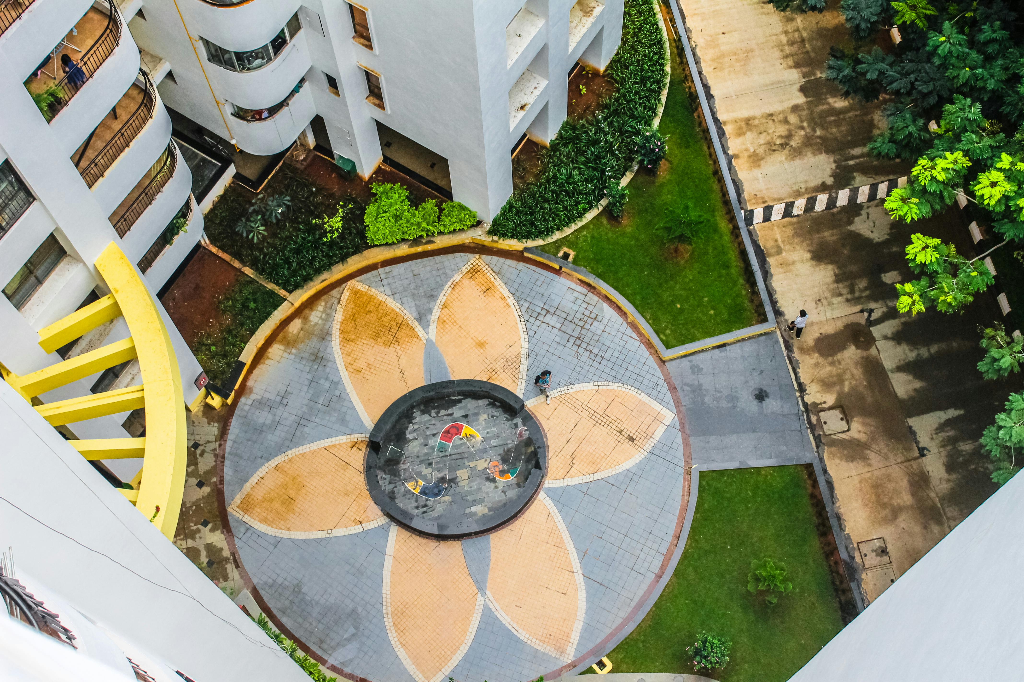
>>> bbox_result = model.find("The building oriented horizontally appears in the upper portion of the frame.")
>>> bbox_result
[111,0,624,221]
